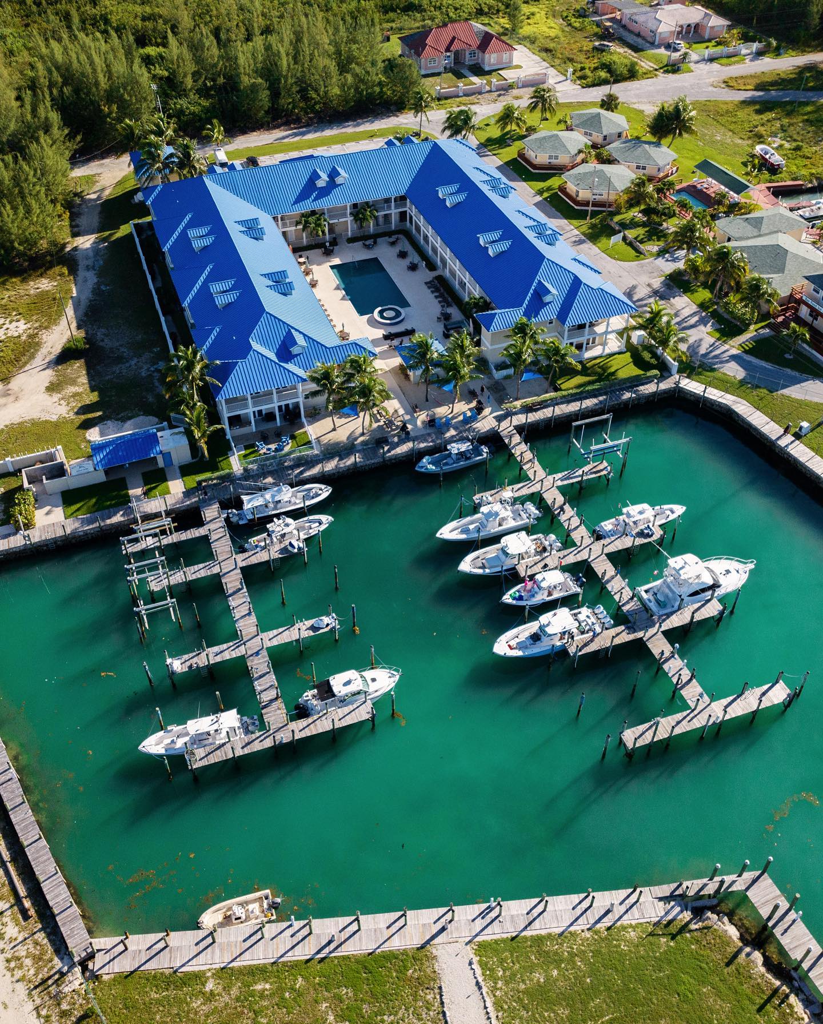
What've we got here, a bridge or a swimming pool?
swimming pool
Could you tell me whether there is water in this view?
Yes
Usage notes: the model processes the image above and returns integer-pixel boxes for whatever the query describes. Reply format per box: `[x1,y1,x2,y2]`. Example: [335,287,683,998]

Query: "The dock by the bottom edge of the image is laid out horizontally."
[93,870,762,975]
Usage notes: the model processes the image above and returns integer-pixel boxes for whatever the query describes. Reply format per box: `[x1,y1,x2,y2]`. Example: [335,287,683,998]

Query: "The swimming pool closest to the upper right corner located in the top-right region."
[672,190,707,208]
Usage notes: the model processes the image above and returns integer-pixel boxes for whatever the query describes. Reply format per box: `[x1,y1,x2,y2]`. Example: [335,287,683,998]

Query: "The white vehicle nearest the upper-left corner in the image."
[212,142,230,167]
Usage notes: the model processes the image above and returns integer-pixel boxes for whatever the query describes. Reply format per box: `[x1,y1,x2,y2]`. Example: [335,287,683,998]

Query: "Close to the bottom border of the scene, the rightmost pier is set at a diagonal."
[742,868,823,1002]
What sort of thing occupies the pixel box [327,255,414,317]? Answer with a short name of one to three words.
swimming pool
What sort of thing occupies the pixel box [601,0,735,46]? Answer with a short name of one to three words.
house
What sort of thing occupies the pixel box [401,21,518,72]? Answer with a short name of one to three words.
house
